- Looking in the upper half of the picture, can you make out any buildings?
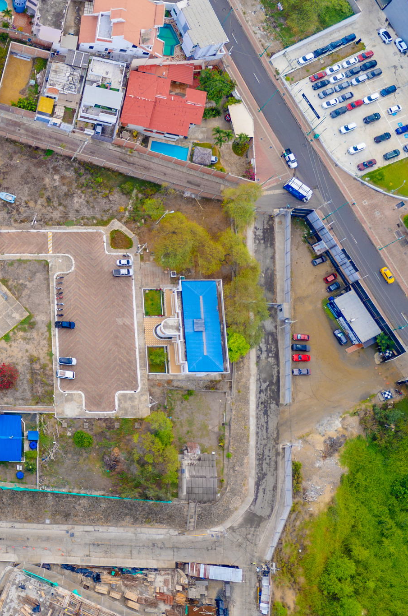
Yes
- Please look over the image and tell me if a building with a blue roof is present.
Yes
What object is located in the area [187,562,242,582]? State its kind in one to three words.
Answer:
shed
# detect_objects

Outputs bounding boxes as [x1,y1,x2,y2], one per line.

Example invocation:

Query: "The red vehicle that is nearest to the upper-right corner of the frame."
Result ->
[358,47,378,61]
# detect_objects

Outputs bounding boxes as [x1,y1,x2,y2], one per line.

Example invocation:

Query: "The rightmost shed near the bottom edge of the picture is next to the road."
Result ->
[256,575,272,614]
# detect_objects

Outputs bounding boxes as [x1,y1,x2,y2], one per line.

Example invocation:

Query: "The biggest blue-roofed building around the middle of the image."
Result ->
[152,279,231,376]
